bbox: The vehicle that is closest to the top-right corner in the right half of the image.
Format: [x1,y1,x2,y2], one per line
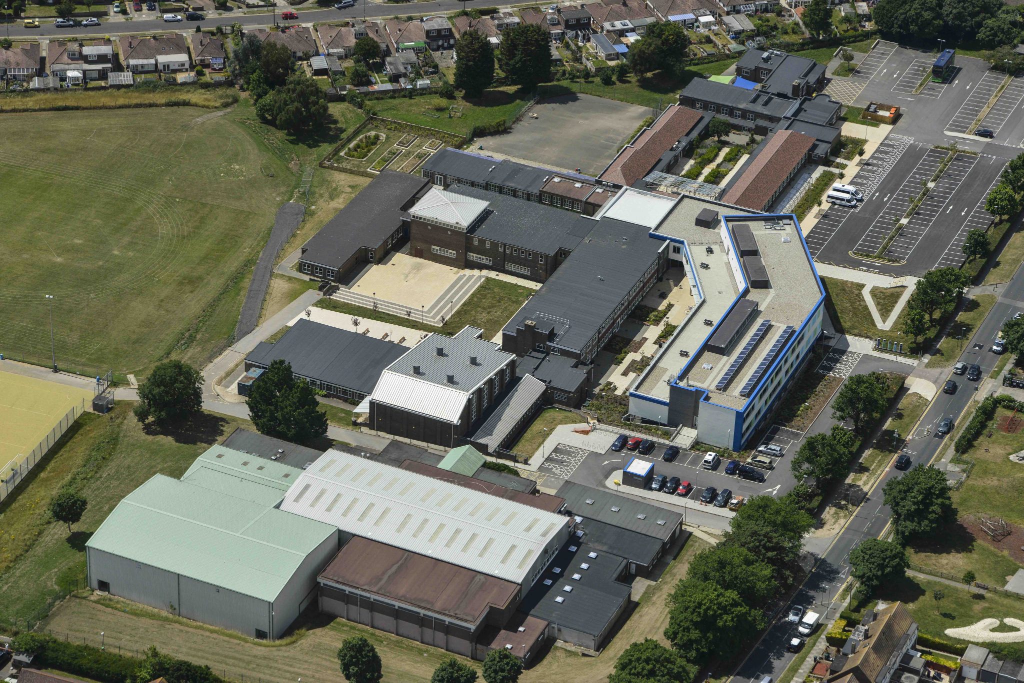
[931,48,953,82]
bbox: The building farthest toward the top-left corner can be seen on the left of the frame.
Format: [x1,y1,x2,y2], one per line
[0,43,42,83]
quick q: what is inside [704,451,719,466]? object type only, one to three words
car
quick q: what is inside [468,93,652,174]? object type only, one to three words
sports court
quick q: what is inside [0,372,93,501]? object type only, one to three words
sports field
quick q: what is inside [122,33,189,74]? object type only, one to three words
house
